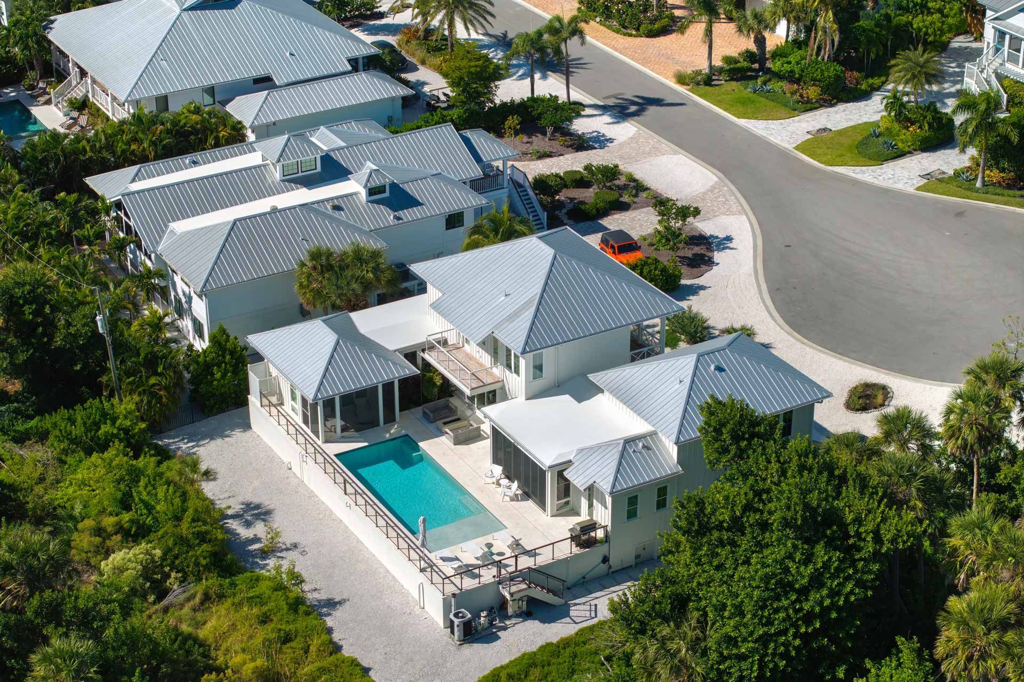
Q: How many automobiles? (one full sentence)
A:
The photo contains 2 automobiles.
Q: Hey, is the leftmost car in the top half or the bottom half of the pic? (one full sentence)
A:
Seen from above, the leftmost car lies in the top half of the view.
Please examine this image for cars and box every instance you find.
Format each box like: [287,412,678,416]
[376,45,413,70]
[598,226,647,266]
